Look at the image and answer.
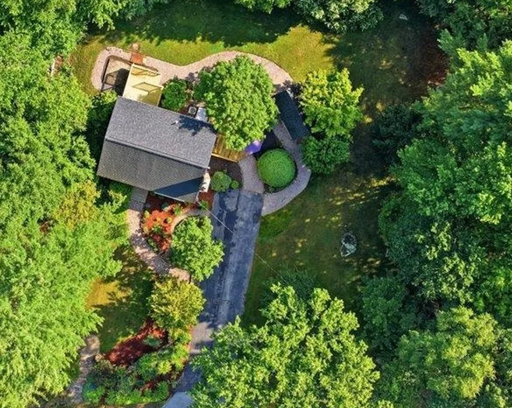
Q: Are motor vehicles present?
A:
No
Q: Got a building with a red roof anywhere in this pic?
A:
No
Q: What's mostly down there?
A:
trees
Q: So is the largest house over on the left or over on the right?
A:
left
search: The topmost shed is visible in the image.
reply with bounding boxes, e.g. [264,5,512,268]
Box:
[274,89,311,140]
